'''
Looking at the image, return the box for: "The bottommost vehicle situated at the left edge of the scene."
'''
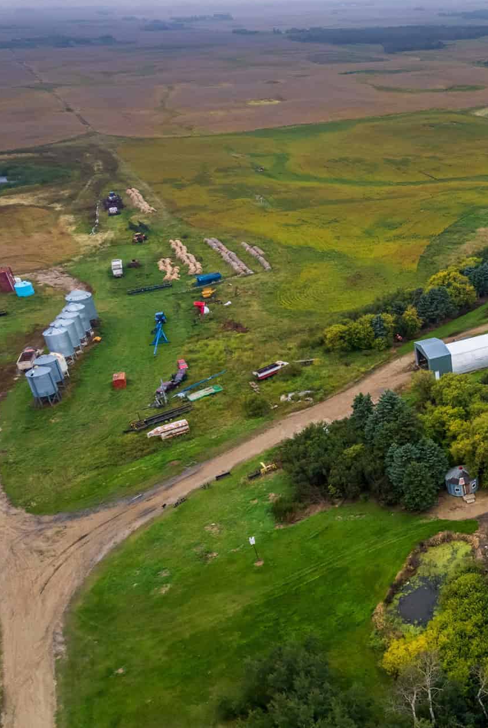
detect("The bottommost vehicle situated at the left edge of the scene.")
[10,351,41,370]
